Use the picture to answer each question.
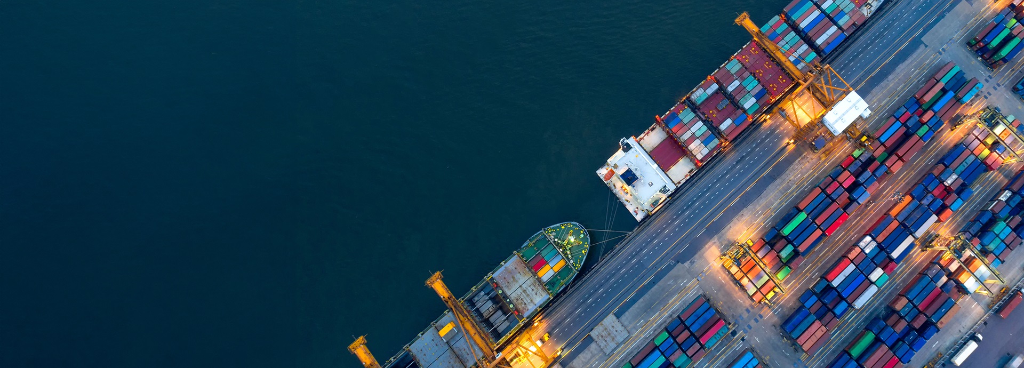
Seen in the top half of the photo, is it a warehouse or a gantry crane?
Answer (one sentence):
The one visible in the top half of the photo is a gantry crane.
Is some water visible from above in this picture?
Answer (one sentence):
Yes, some water is visible.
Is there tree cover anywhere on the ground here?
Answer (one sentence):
No, no tree cover is visible.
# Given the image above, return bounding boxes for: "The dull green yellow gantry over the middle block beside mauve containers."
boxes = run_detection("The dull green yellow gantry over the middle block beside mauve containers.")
[952,106,1024,172]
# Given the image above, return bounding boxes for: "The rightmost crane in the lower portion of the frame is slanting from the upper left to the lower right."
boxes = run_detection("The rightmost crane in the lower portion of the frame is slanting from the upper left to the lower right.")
[921,227,1007,296]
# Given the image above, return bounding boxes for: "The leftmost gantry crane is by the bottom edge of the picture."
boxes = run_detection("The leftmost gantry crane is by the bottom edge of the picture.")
[348,338,383,368]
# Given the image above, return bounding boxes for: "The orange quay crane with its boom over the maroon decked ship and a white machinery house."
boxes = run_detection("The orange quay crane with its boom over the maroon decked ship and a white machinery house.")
[732,7,878,156]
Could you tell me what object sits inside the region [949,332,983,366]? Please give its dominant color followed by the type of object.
white truck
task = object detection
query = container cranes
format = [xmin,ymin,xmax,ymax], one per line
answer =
[732,7,878,156]
[425,272,570,368]
[921,227,1007,296]
[952,106,1024,172]
[348,338,383,368]
[719,235,785,305]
